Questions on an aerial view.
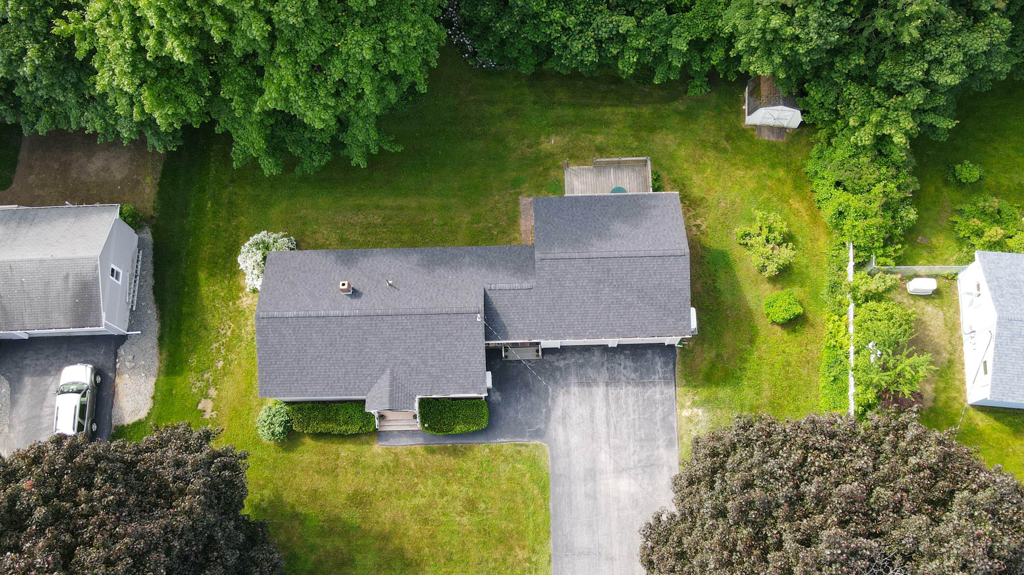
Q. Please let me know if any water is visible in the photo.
No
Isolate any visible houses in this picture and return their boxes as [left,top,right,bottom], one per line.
[256,190,692,431]
[958,251,1024,407]
[0,194,143,340]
